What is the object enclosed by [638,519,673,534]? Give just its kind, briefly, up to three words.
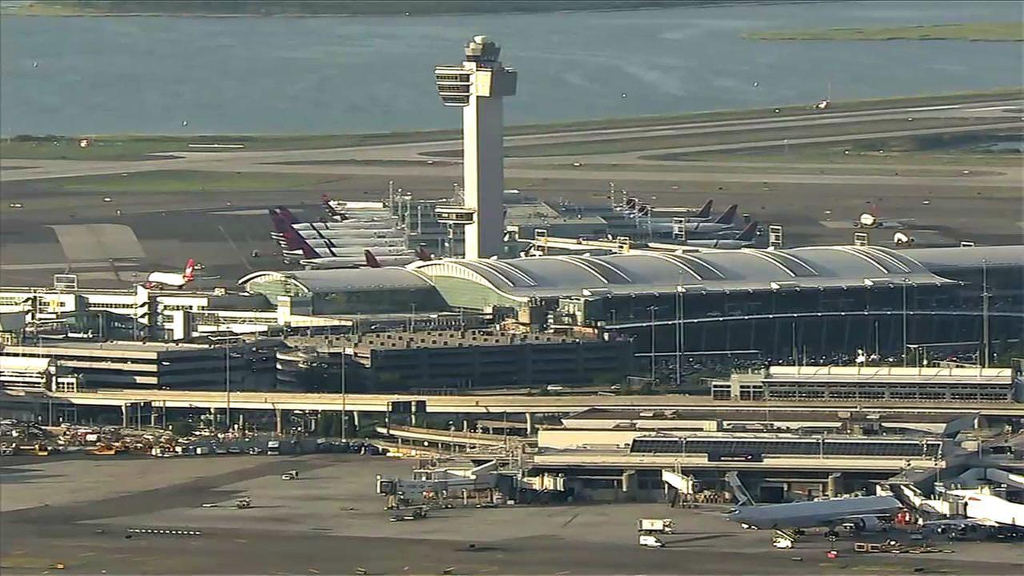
vehicle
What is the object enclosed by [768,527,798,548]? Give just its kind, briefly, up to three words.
work vehicle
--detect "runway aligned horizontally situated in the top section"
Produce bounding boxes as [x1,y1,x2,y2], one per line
[141,99,1024,155]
